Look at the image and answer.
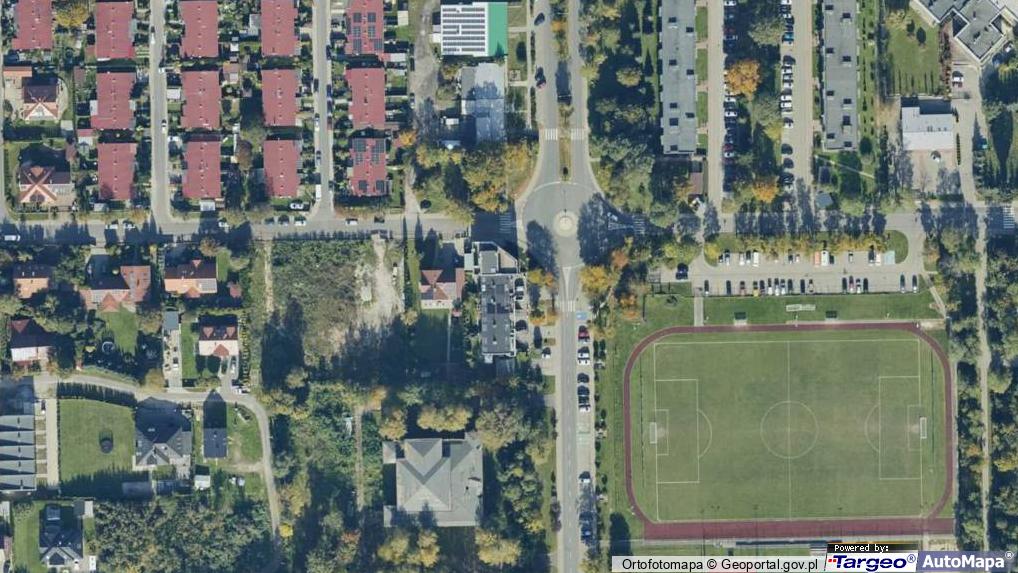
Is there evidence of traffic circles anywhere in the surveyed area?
Yes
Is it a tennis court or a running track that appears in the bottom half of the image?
running track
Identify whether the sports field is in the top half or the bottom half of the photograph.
bottom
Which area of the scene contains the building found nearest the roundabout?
center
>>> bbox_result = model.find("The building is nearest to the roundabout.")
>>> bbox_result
[465,243,517,373]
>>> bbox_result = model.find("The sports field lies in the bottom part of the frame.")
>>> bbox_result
[650,335,926,521]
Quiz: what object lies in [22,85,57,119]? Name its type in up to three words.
house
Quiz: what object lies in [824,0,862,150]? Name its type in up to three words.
building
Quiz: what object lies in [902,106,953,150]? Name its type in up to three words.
building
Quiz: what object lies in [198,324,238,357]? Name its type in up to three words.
house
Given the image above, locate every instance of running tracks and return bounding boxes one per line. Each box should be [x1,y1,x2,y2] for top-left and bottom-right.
[623,322,954,541]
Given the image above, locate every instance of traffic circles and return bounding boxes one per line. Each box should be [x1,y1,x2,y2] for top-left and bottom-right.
[524,181,623,270]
